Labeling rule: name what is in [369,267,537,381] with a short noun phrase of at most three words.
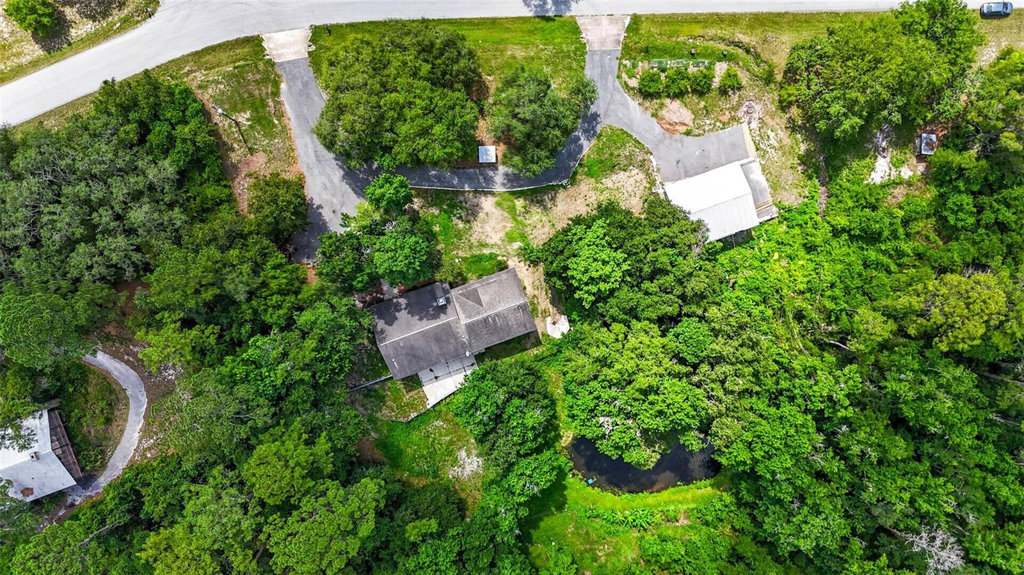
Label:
house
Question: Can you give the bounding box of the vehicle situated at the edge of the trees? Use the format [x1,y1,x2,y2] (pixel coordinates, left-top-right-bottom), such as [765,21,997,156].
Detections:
[980,1,1011,18]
